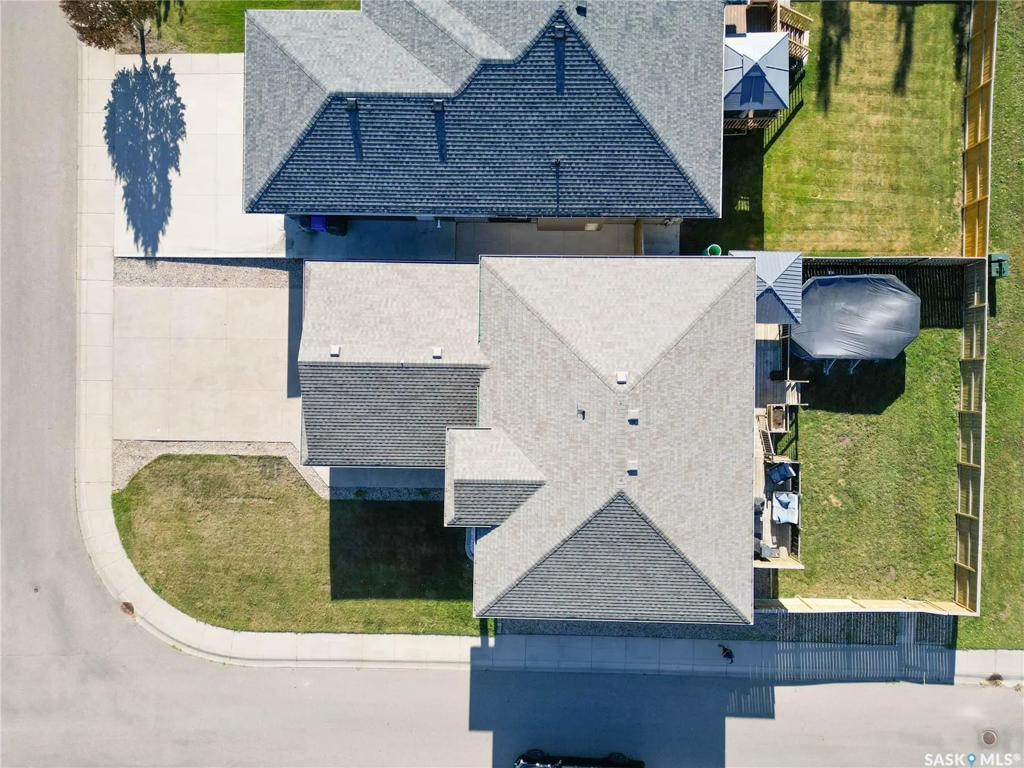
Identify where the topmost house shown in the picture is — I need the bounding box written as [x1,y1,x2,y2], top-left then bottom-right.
[243,0,724,230]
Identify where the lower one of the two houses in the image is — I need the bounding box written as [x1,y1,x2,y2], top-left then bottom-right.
[302,256,756,622]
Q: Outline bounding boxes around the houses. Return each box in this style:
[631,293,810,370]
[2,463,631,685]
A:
[243,0,724,230]
[302,256,756,622]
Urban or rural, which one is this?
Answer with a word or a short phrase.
urban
